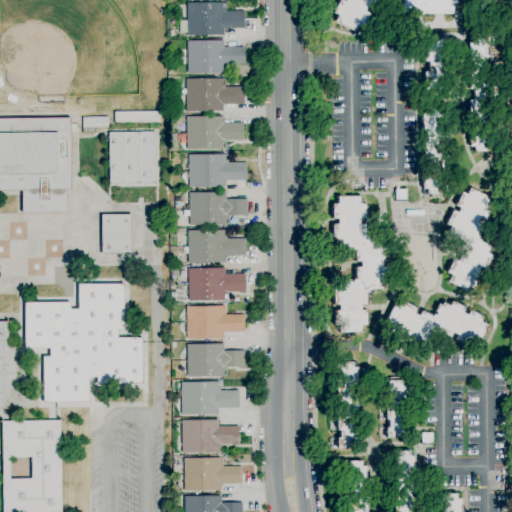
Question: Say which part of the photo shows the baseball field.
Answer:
top left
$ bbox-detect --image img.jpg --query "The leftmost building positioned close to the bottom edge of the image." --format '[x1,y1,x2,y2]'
[2,420,62,512]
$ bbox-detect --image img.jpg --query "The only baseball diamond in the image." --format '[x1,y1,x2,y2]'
[0,0,138,94]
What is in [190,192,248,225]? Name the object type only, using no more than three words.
house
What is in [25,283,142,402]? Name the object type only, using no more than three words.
building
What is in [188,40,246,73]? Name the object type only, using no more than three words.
house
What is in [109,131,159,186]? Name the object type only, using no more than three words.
building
